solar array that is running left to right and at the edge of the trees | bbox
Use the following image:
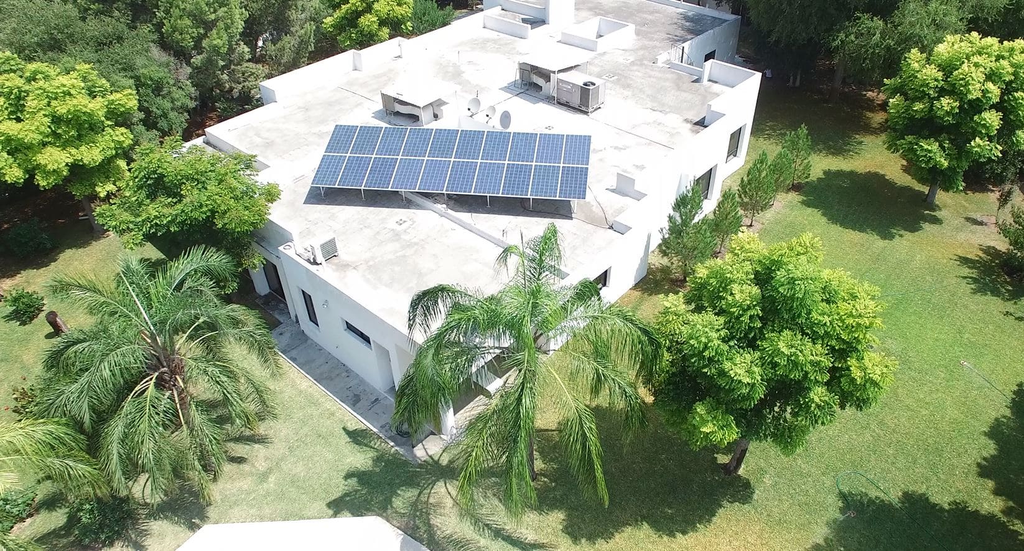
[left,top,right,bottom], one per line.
[312,125,592,213]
